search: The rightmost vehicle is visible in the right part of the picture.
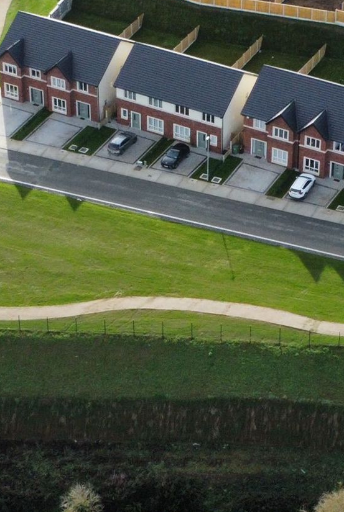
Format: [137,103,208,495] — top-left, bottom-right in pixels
[290,172,320,198]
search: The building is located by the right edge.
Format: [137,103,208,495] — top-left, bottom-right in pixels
[240,66,344,184]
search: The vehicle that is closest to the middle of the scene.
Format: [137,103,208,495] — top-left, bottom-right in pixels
[161,143,190,168]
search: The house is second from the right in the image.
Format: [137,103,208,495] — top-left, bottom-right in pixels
[112,40,260,155]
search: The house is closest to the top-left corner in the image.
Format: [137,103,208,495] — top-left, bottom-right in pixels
[0,10,135,121]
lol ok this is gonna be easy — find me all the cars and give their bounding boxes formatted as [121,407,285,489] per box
[161,143,190,168]
[290,172,320,198]
[107,128,138,155]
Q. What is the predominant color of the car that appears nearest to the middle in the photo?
black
